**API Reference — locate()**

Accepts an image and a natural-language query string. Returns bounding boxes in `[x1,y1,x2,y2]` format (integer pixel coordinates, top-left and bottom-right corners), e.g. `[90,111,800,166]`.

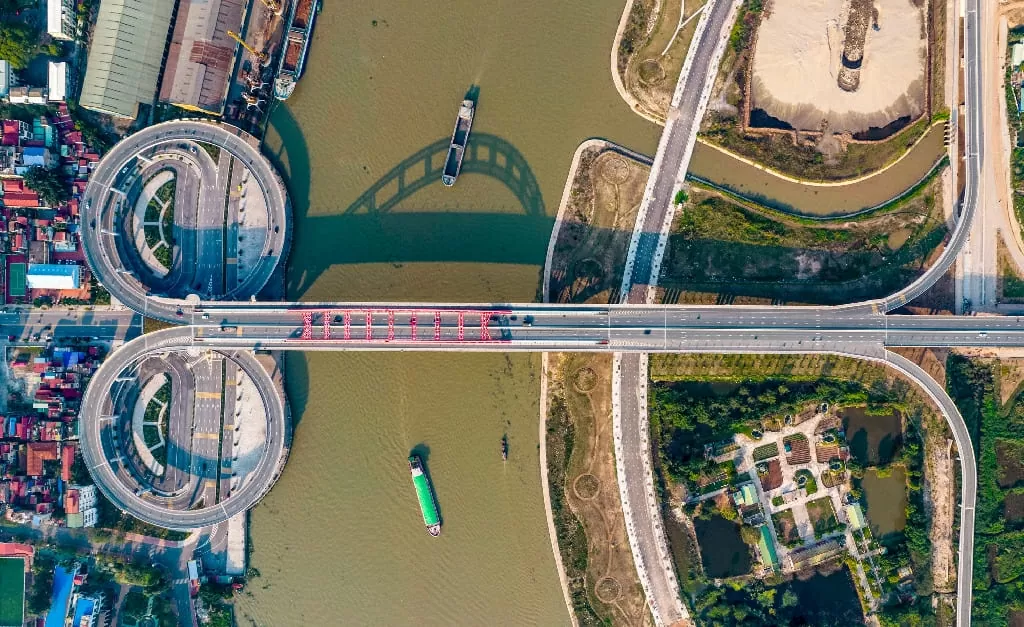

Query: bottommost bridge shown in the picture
[169,292,1024,361]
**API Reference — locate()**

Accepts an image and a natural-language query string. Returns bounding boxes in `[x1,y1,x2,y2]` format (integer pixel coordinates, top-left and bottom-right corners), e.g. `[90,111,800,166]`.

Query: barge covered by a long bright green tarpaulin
[408,455,440,539]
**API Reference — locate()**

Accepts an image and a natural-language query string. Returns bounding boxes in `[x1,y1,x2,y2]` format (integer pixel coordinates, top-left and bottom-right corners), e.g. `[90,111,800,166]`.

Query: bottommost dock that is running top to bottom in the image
[227,508,249,574]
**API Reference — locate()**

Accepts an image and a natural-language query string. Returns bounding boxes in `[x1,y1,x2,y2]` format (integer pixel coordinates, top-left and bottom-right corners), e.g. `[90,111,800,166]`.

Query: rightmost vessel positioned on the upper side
[444,96,473,187]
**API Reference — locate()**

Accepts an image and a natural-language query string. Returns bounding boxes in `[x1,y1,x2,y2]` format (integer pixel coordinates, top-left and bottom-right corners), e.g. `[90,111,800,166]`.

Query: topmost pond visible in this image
[652,378,857,395]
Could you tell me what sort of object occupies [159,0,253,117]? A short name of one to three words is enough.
building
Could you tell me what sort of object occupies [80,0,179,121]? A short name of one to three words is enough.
building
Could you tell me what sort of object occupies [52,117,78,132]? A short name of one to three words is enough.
house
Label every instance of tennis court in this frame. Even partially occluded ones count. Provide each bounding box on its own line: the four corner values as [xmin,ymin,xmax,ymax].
[6,261,29,304]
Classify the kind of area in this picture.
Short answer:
port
